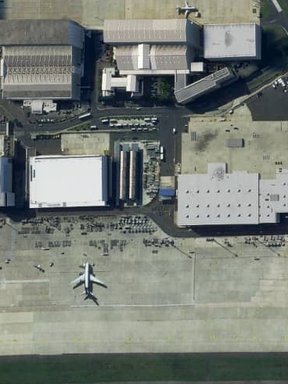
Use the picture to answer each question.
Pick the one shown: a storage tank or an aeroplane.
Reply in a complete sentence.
This aerial view contains an aeroplane.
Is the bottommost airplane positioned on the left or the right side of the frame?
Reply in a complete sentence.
The bottommost airplane sits on the left side.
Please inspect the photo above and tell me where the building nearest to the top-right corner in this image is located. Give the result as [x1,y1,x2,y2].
[204,22,261,61]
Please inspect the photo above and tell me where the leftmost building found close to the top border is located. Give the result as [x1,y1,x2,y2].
[0,19,89,102]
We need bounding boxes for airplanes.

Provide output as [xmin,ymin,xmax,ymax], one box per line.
[69,261,105,294]
[177,0,197,17]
